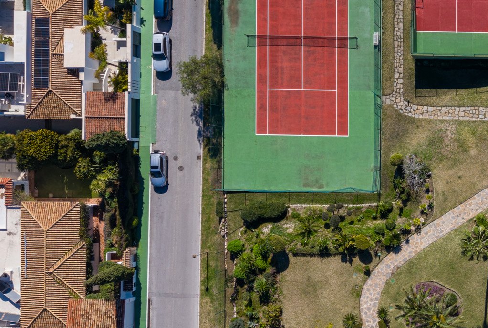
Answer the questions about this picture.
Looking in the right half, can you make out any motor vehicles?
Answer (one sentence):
No, the scene shows no motor vehicle in the right half.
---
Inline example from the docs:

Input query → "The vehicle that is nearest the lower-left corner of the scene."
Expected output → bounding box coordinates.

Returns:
[149,152,170,186]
